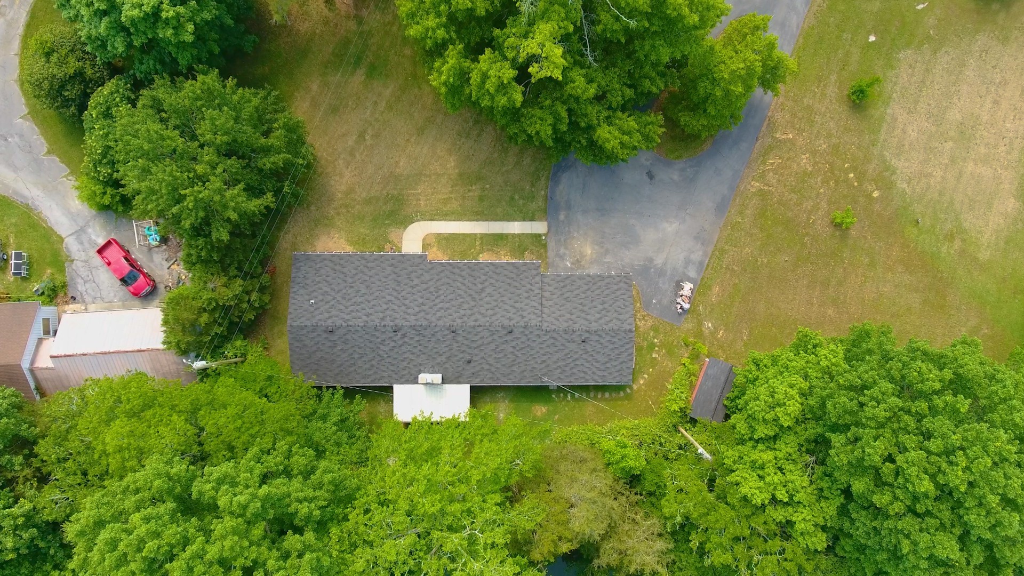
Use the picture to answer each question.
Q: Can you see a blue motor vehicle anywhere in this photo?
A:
No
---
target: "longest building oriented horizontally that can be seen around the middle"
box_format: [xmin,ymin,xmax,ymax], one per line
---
[287,251,635,421]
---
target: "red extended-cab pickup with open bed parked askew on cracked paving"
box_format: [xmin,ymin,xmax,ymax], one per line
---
[95,237,159,300]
